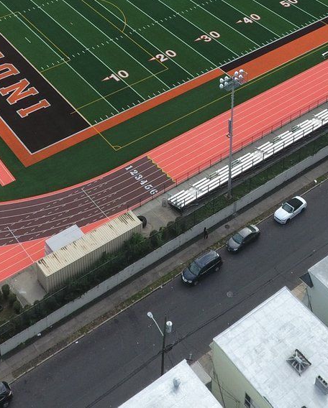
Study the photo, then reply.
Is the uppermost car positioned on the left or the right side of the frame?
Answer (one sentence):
You can find the uppermost car on the right side of the picture.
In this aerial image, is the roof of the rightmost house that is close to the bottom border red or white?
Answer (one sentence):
The roof of the rightmost house that is close to the bottom border looks white in the image.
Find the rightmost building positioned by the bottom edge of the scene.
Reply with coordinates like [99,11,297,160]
[202,283,328,408]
